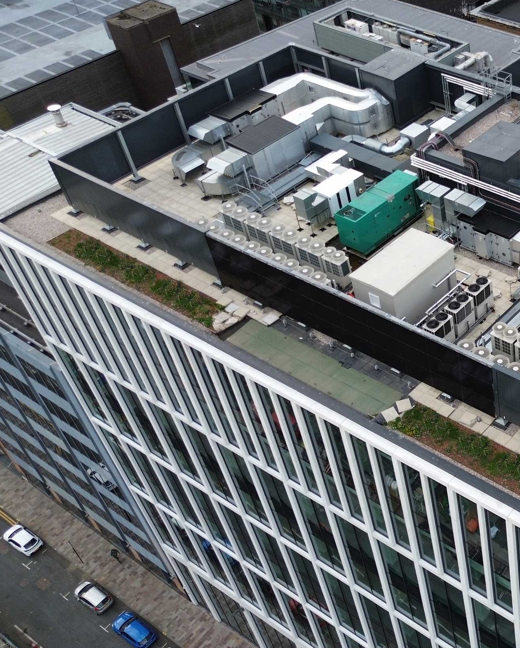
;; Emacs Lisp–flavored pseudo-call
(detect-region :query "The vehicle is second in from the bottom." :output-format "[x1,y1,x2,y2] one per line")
[69,577,114,615]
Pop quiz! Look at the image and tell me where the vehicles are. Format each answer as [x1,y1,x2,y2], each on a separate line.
[108,607,157,648]
[69,577,114,615]
[1,521,44,557]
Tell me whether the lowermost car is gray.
No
